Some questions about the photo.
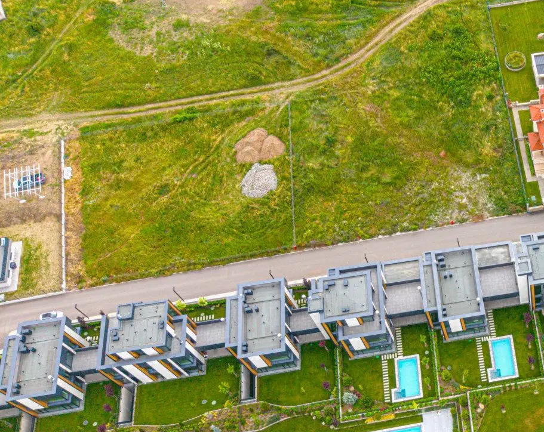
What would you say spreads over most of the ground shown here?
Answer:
grass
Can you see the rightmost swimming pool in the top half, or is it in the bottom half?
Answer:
bottom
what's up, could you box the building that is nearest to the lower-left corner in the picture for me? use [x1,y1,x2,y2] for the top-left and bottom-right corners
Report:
[0,317,106,422]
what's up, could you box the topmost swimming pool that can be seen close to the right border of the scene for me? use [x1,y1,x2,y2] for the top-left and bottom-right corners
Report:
[487,335,518,382]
